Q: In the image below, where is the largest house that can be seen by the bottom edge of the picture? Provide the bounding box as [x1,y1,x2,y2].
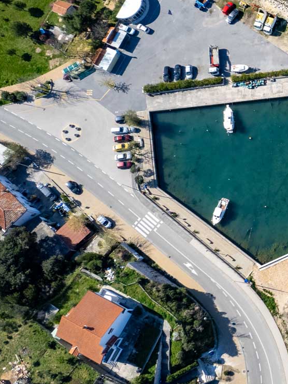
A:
[52,286,162,371]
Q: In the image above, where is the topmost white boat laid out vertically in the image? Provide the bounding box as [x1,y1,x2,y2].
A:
[223,102,237,134]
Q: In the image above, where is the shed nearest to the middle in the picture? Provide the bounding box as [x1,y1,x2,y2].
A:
[56,220,96,249]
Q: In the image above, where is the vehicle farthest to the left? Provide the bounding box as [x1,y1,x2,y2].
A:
[36,182,56,200]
